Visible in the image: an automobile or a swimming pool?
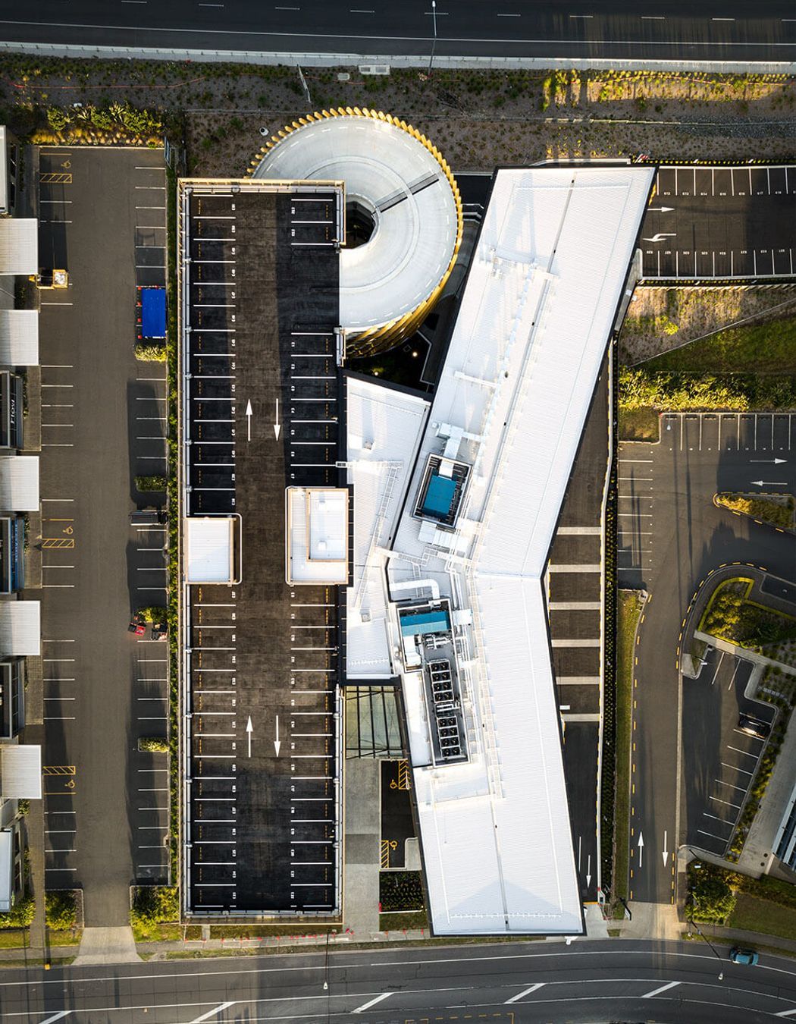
automobile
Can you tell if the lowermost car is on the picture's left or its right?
right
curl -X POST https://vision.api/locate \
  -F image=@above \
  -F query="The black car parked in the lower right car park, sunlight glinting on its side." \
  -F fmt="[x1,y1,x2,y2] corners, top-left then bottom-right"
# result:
[735,713,771,735]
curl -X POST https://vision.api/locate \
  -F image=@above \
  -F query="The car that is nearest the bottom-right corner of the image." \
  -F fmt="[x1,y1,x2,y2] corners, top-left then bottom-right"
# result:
[726,946,758,967]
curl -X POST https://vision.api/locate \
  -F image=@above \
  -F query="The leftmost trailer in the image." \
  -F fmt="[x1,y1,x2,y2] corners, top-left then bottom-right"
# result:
[29,269,73,290]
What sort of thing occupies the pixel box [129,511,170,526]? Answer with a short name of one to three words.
vehicle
